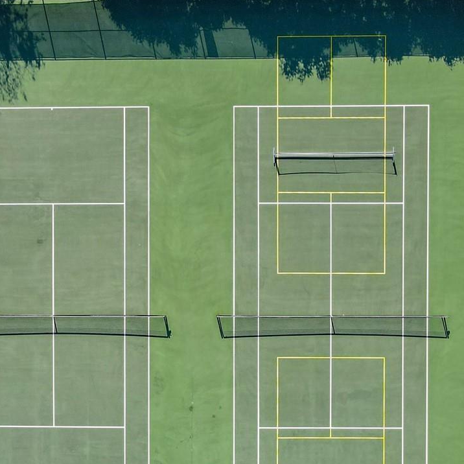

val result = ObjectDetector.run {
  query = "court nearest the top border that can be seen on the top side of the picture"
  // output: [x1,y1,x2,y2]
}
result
[277,34,386,274]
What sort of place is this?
sports ground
